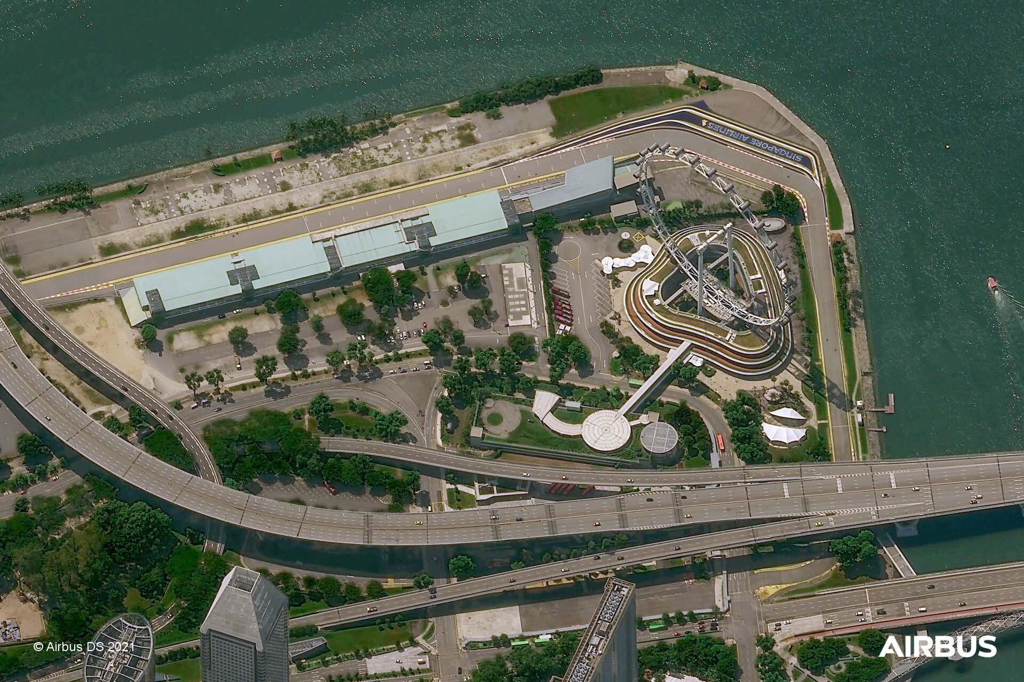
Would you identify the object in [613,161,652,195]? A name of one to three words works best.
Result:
house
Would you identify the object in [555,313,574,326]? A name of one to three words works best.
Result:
vehicle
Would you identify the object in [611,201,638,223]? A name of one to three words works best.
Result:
shed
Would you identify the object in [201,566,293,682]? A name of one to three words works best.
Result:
building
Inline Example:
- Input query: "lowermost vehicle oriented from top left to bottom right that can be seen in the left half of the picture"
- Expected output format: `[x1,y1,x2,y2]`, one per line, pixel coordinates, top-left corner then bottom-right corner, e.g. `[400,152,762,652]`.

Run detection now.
[323,482,338,498]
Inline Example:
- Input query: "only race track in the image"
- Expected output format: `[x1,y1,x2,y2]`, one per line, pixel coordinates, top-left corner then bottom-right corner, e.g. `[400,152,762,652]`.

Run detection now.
[0,100,855,462]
